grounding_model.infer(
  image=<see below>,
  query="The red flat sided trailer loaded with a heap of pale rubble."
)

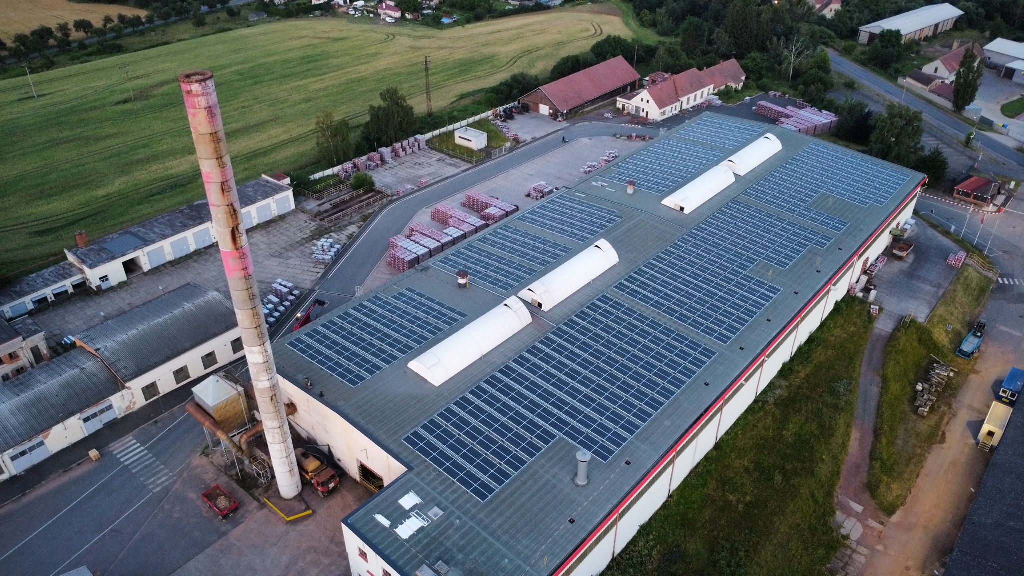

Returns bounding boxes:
[201,486,241,524]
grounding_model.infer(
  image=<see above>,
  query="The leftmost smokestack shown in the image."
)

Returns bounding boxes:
[76,231,92,248]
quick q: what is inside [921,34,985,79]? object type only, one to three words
house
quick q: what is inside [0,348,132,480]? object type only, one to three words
shed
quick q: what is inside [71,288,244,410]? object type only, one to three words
shed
